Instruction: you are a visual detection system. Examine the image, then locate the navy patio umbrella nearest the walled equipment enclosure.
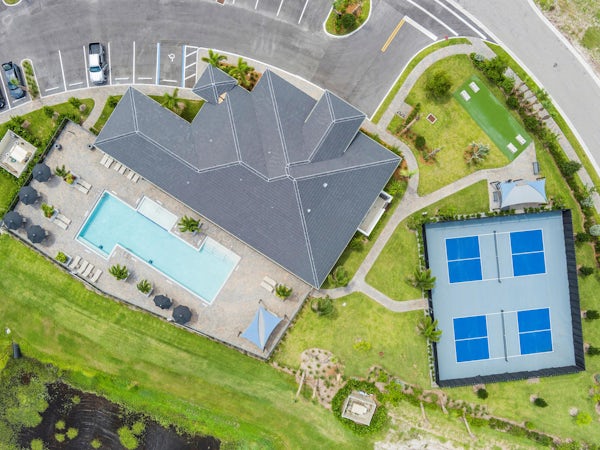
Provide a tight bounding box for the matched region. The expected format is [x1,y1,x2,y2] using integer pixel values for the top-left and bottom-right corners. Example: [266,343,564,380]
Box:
[32,163,53,182]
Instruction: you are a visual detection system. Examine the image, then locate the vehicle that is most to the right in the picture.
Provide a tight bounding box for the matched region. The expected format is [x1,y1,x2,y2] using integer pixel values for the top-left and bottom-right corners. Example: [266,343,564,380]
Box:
[88,41,108,86]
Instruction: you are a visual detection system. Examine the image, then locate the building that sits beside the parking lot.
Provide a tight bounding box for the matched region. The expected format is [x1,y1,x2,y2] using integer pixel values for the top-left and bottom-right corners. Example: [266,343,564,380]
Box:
[93,62,402,288]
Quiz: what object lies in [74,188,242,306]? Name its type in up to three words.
swimming pool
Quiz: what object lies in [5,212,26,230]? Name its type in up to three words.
umbrella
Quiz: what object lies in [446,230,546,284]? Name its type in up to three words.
sports court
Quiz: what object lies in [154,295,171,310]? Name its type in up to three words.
umbrella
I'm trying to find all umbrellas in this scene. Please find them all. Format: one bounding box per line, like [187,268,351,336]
[154,295,171,310]
[19,186,40,205]
[32,163,53,182]
[5,212,26,230]
[172,305,191,324]
[26,225,47,244]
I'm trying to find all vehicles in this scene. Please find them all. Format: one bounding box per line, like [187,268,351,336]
[88,41,108,86]
[2,63,28,100]
[0,89,6,107]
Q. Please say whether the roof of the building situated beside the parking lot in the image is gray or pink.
gray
